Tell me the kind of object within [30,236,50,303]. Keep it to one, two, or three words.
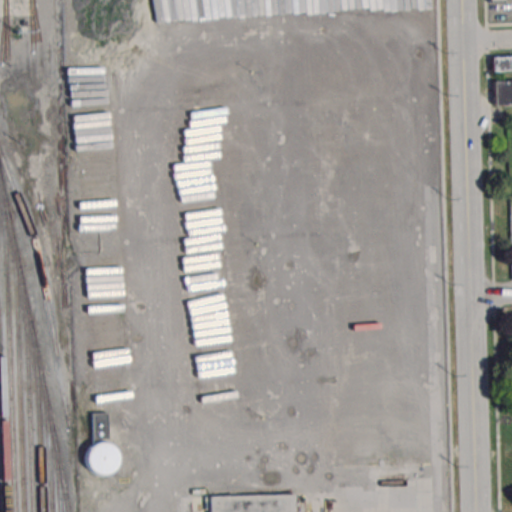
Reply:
rail car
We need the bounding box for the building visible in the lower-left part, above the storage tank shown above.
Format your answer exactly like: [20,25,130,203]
[90,413,108,444]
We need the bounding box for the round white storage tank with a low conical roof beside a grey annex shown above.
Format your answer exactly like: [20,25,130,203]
[84,442,122,477]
